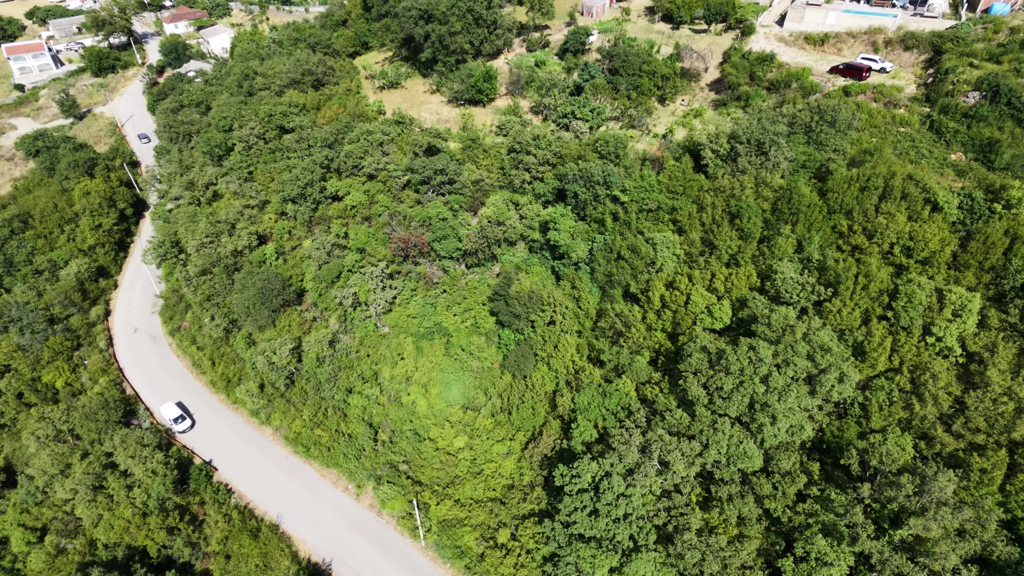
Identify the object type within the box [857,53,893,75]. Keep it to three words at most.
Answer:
car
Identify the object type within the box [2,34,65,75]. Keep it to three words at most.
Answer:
house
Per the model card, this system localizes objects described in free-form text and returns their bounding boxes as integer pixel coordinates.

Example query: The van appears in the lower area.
[159,401,192,433]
